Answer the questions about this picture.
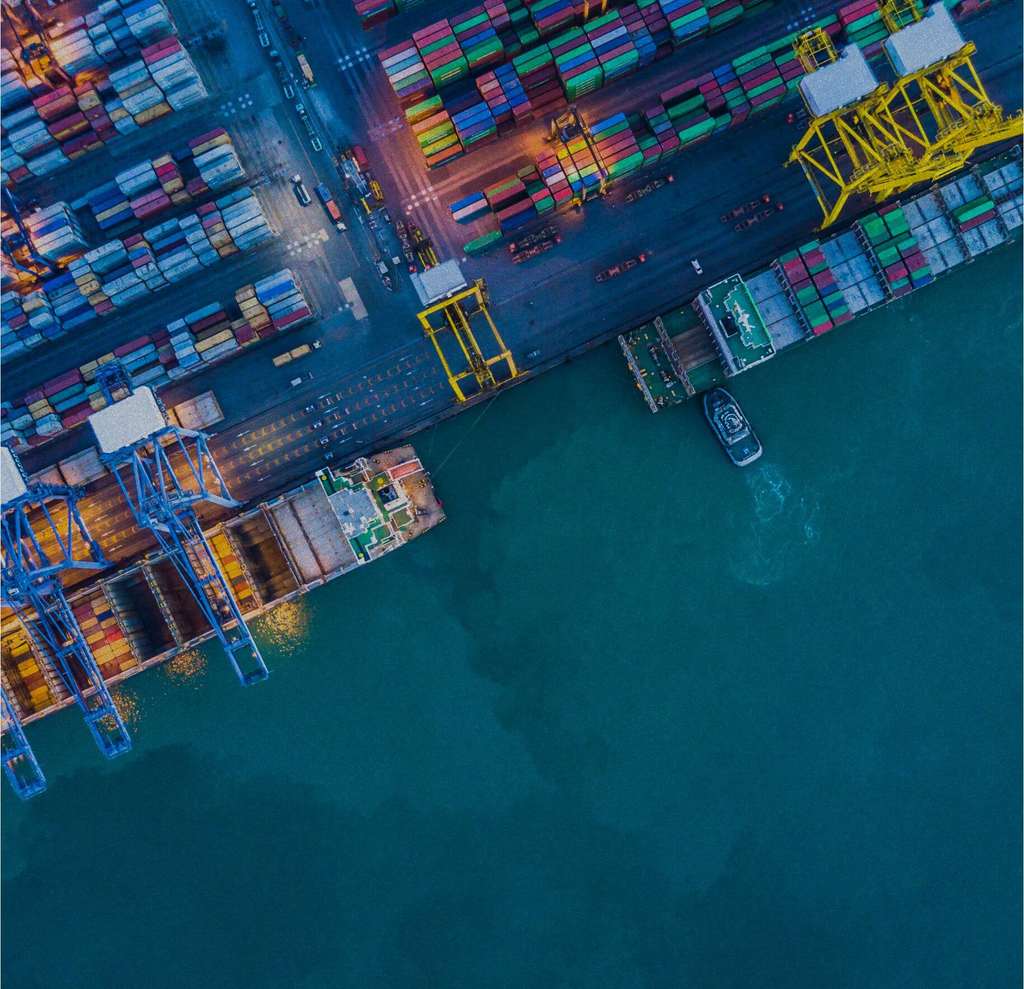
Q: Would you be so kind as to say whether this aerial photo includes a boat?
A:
Yes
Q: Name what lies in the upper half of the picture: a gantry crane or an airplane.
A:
gantry crane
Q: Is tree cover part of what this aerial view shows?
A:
No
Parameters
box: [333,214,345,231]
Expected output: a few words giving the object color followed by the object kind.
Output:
white vehicle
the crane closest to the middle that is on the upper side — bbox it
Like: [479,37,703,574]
[406,231,527,407]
